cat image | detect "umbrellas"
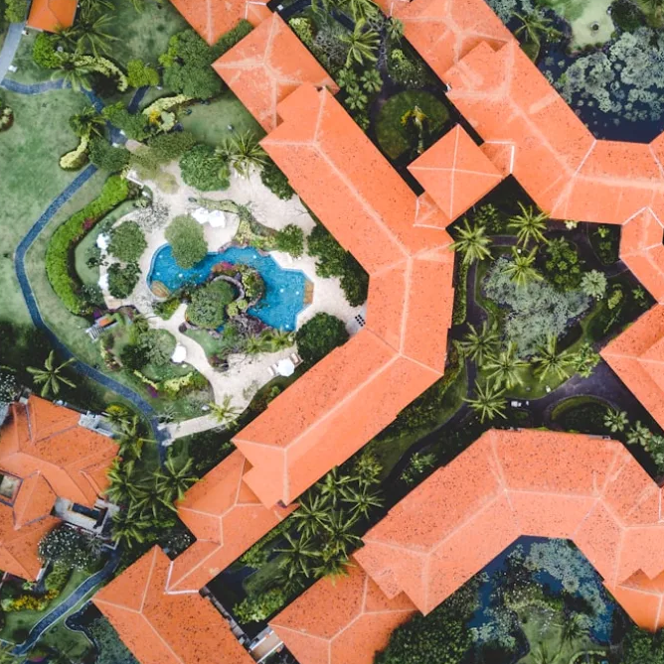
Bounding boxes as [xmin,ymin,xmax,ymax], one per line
[173,345,189,361]
[96,235,111,249]
[210,211,226,227]
[97,274,111,288]
[194,207,210,223]
[278,359,294,376]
